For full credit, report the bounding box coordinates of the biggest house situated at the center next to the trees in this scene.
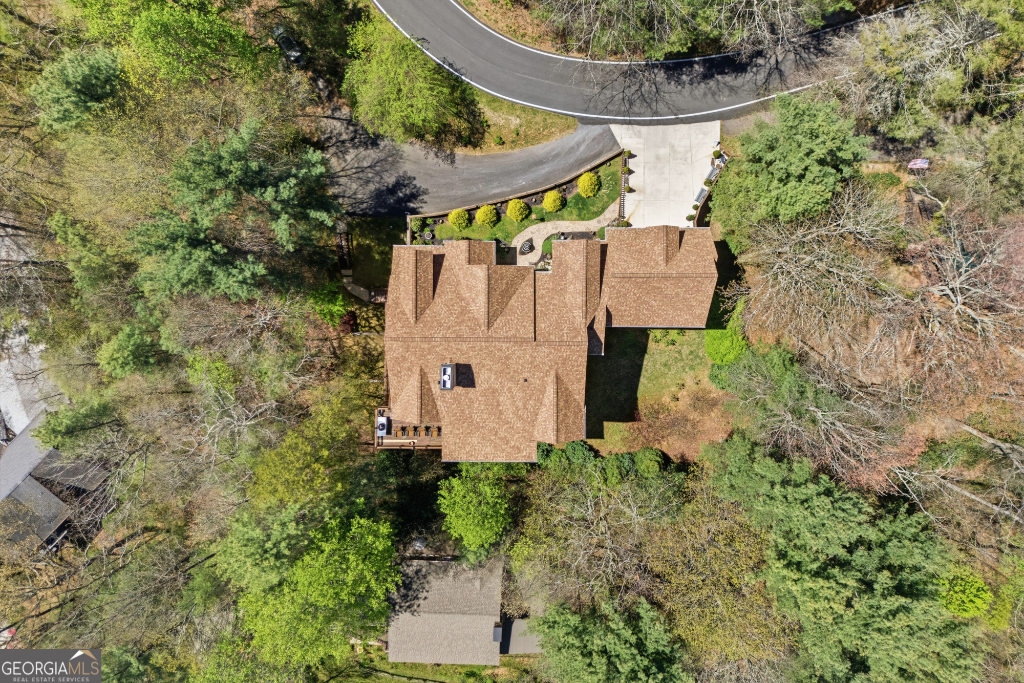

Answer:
[384,225,718,463]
